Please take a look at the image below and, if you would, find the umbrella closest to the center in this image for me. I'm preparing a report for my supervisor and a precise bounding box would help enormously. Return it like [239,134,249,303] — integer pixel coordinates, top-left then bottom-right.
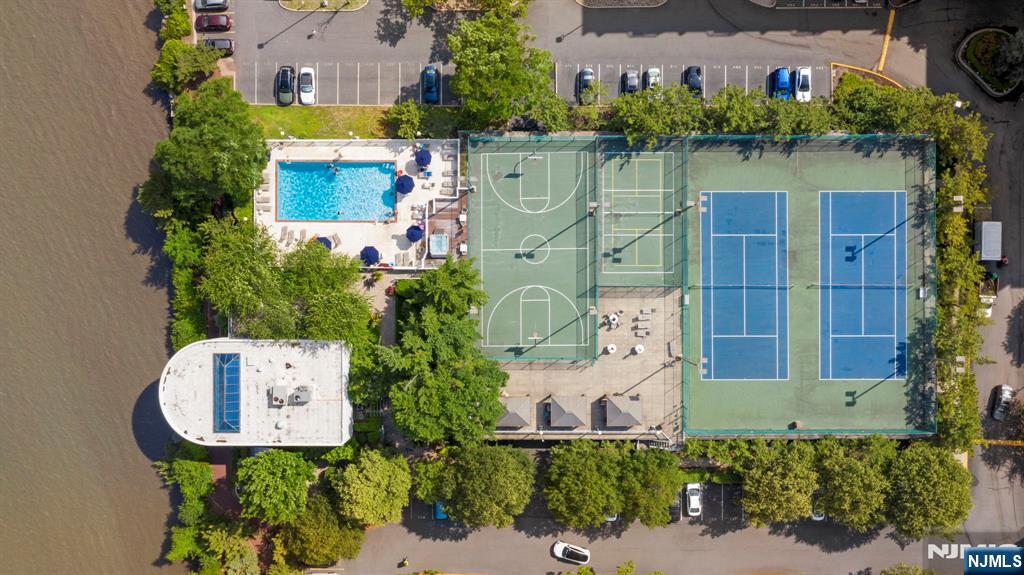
[407,225,424,242]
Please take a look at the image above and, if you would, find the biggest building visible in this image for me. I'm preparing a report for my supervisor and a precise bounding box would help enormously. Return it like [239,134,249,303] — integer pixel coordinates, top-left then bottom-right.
[158,336,359,461]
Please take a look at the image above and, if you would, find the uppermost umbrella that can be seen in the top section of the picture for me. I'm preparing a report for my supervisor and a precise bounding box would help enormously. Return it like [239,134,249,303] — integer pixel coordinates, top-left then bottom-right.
[415,149,432,166]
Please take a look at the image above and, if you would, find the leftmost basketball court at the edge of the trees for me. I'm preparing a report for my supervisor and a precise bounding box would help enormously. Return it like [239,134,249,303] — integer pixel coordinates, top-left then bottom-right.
[468,141,594,358]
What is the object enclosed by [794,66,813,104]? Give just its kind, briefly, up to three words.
car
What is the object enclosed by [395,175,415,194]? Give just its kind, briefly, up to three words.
umbrella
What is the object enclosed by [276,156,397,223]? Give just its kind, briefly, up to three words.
swimming pool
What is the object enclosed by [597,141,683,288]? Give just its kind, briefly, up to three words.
sports court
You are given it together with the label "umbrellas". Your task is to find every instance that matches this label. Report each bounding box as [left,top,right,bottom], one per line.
[415,149,432,166]
[395,175,415,194]
[315,235,333,253]
[360,246,379,265]
[407,225,424,242]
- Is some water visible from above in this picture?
Yes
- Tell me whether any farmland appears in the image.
No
